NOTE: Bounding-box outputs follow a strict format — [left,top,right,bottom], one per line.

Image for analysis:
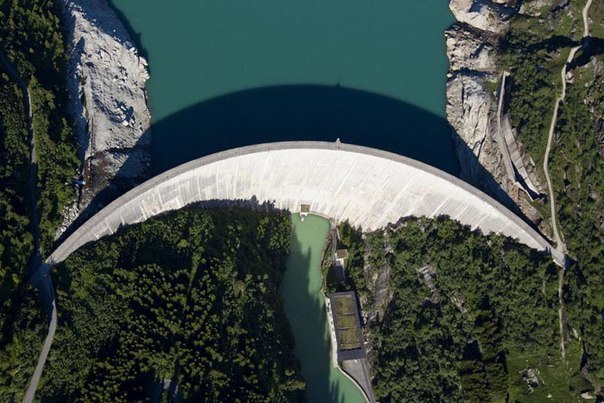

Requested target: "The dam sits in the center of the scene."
[40,139,552,271]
